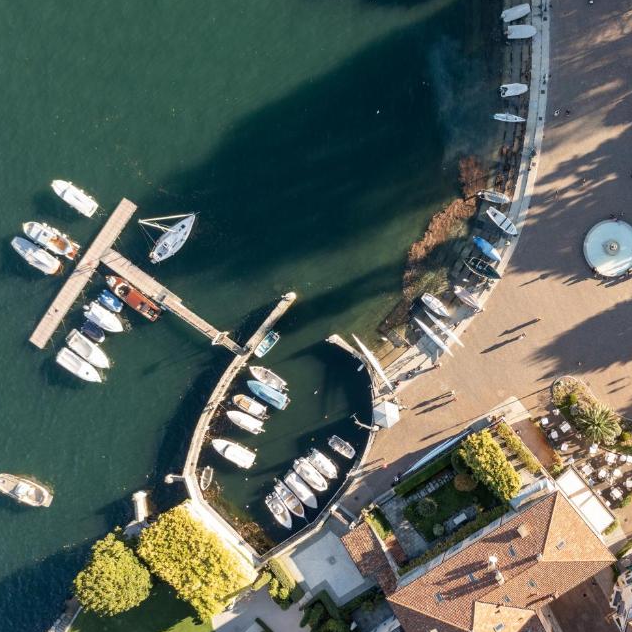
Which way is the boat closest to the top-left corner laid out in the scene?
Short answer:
on a diagonal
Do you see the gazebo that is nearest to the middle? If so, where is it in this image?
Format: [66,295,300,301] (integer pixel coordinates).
[374,399,401,427]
